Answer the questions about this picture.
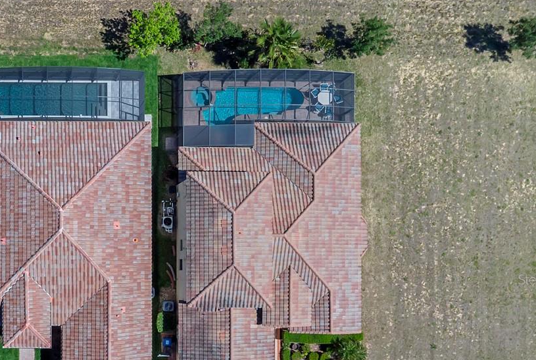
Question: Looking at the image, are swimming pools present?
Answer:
Yes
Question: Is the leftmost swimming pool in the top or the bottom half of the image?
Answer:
top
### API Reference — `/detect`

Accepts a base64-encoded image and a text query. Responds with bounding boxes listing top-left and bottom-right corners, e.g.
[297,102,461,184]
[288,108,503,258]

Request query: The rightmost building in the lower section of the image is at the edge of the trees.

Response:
[174,122,367,360]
